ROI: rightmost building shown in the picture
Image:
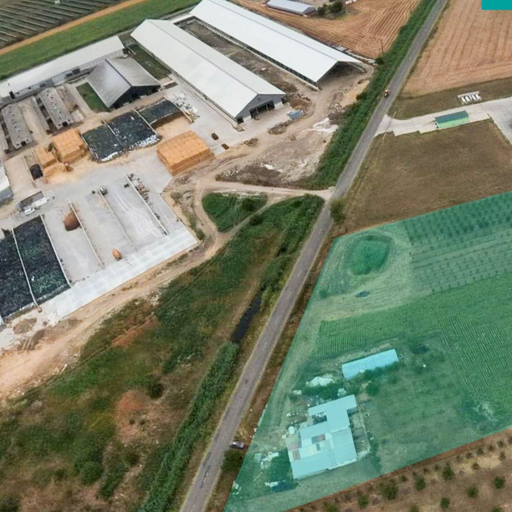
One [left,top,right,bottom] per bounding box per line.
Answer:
[432,112,468,129]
